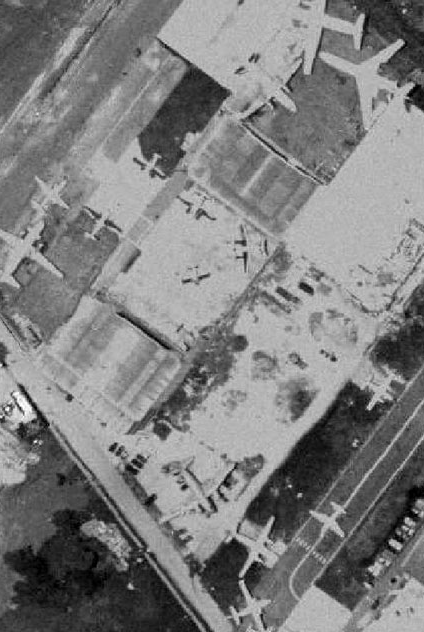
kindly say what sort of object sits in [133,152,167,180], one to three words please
airplane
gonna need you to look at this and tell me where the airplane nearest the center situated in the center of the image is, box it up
[181,265,211,286]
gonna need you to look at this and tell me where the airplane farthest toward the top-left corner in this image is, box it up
[29,175,70,216]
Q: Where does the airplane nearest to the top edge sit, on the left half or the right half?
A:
right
